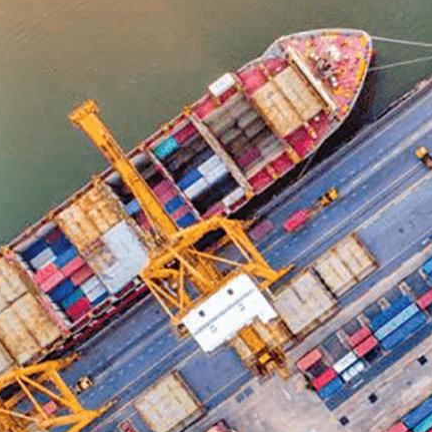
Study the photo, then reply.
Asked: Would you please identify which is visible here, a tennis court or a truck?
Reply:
truck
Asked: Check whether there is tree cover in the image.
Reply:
No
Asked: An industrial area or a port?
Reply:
port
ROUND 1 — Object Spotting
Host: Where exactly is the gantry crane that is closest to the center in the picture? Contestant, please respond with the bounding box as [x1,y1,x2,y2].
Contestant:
[66,102,293,386]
